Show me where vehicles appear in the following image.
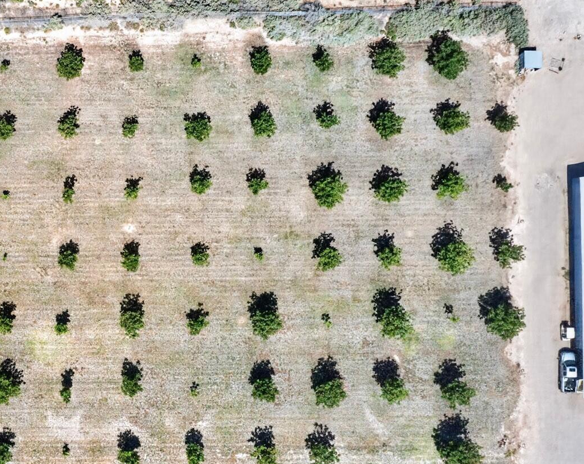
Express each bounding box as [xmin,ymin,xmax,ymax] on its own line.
[559,321,576,340]
[557,349,579,394]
